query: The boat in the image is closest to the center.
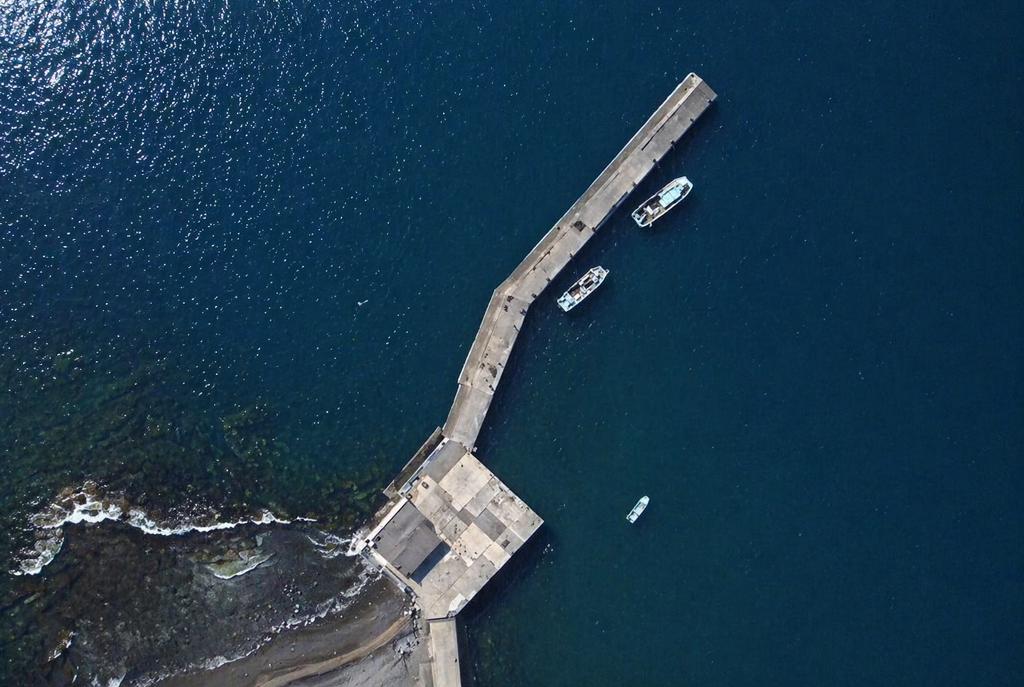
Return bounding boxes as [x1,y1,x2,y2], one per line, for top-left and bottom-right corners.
[557,265,610,312]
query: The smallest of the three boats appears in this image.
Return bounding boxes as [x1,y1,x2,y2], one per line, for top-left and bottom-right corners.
[626,496,650,523]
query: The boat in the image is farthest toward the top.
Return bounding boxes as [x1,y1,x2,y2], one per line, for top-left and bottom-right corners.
[632,175,694,227]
